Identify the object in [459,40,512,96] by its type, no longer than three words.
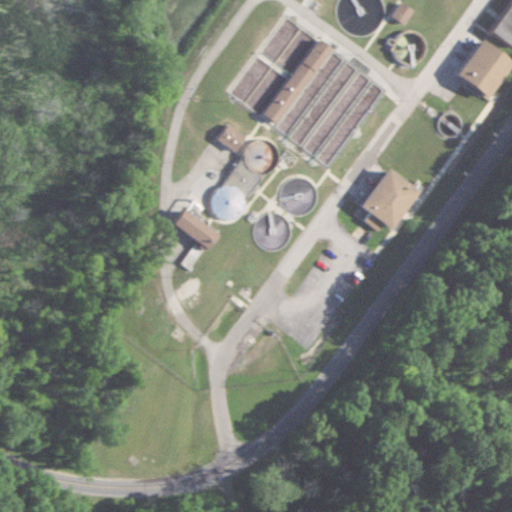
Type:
building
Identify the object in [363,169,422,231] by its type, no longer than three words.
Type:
building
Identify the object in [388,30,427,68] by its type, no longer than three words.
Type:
storage tank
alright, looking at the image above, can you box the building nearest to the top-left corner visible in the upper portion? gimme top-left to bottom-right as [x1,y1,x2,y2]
[218,125,246,153]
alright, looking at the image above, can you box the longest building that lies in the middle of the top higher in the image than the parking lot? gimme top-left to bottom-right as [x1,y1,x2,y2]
[266,42,332,122]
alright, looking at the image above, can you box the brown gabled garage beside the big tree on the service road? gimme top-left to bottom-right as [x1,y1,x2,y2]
[177,211,220,250]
